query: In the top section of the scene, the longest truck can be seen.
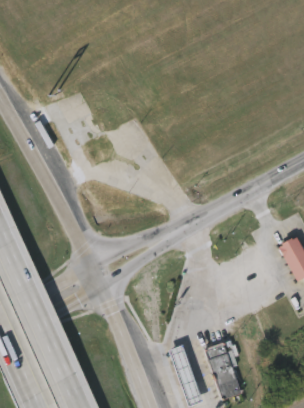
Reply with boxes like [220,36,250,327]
[29,114,51,148]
